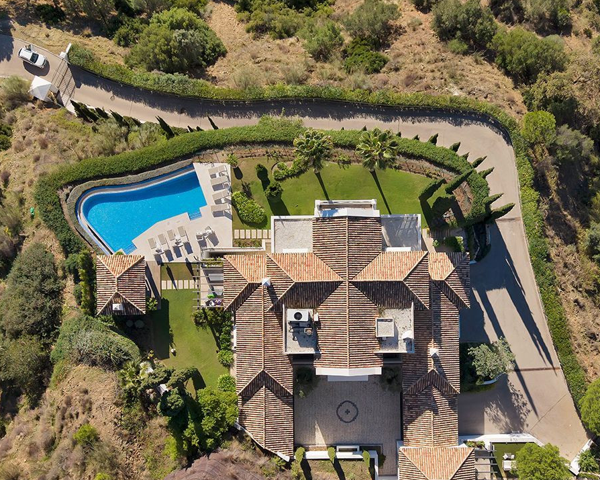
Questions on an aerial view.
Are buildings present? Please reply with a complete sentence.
Yes, a building can be made out from above.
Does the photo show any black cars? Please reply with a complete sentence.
No, I can see no black car in this picture.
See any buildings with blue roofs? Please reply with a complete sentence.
No, the photo shows no building with a blue roof.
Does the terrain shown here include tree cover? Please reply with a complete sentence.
Yes, tree cover shows up in the scene.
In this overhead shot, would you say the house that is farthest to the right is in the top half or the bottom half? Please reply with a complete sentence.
Seen from above, the house that is farthest to the right lies in the bottom half of the view.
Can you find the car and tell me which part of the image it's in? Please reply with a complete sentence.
The car appears toward the top left of the photo.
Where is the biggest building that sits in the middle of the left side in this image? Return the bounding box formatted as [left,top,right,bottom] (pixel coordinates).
[95,254,149,316]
